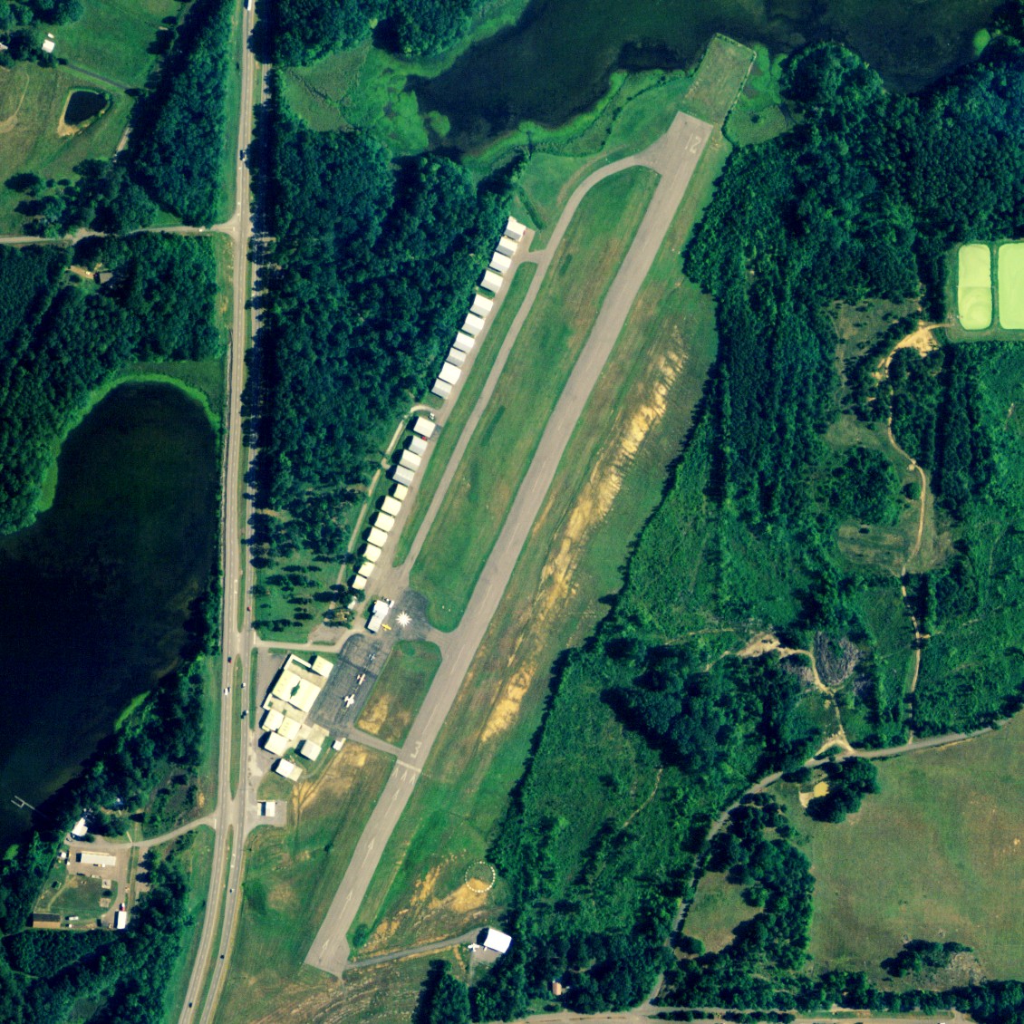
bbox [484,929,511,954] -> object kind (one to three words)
hangar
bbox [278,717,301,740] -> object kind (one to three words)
building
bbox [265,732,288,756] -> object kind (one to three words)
hangar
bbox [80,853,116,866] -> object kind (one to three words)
shed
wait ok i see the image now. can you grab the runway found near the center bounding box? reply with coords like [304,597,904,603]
[304,111,713,981]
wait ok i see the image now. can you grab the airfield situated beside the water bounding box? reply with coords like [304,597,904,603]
[271,111,713,981]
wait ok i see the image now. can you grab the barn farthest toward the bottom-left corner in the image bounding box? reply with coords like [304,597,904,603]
[32,914,60,929]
